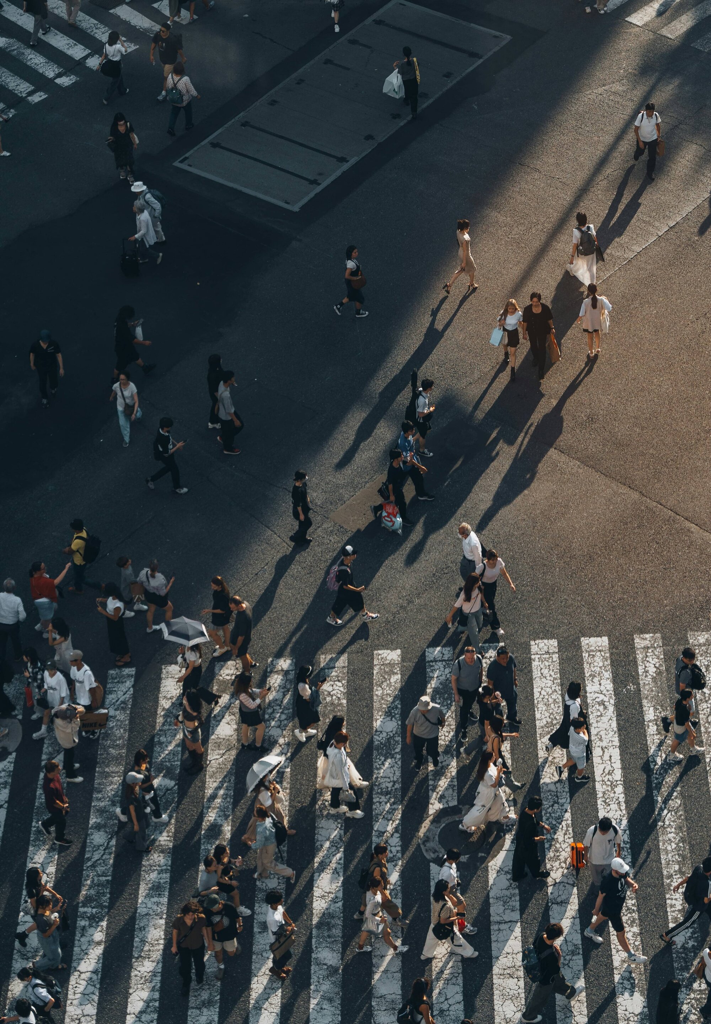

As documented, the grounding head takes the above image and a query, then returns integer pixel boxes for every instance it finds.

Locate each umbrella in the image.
[246,756,286,797]
[162,612,213,655]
